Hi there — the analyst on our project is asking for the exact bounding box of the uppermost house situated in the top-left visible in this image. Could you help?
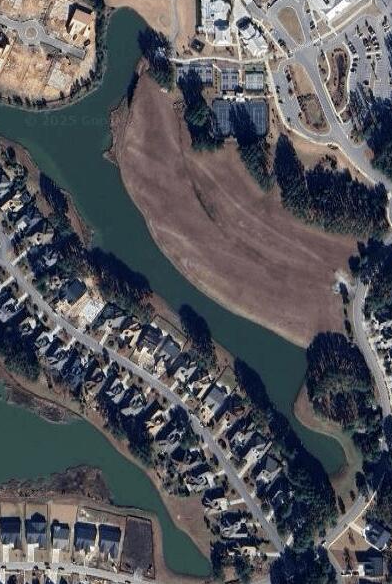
[67,5,97,31]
